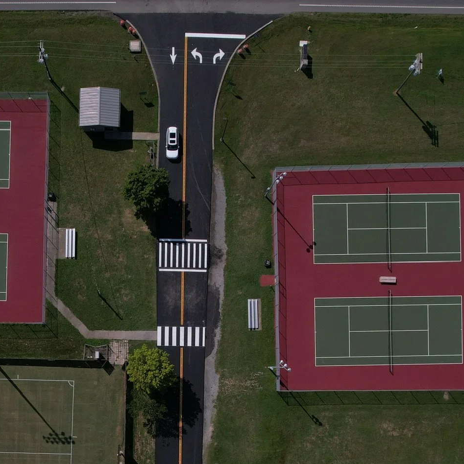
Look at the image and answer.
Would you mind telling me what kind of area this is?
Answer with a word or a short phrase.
sports ground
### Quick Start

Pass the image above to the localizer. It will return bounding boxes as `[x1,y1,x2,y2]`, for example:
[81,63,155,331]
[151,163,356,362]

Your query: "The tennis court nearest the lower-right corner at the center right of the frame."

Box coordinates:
[273,166,464,390]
